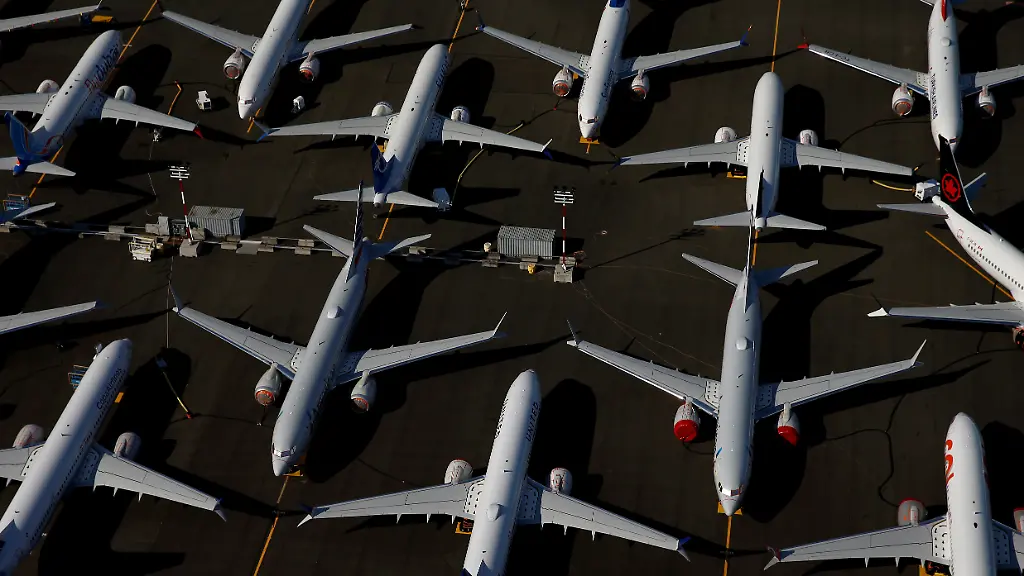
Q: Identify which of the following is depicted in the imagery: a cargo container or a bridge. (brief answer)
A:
cargo container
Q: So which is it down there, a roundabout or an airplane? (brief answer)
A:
airplane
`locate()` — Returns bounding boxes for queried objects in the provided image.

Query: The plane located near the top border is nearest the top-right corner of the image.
[801,0,1024,156]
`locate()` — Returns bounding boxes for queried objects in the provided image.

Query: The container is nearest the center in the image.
[499,225,556,260]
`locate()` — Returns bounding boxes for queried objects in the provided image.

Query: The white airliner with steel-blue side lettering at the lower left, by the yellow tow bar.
[0,341,224,576]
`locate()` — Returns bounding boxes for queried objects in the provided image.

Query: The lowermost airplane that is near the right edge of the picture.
[768,414,1024,576]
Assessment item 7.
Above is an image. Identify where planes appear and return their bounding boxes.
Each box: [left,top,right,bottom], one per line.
[0,0,110,56]
[158,0,423,119]
[170,177,507,477]
[255,44,553,208]
[475,0,752,139]
[567,205,925,517]
[0,341,224,576]
[801,0,1024,156]
[0,31,199,177]
[608,73,923,232]
[768,414,1024,576]
[297,372,690,576]
[868,136,1024,352]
